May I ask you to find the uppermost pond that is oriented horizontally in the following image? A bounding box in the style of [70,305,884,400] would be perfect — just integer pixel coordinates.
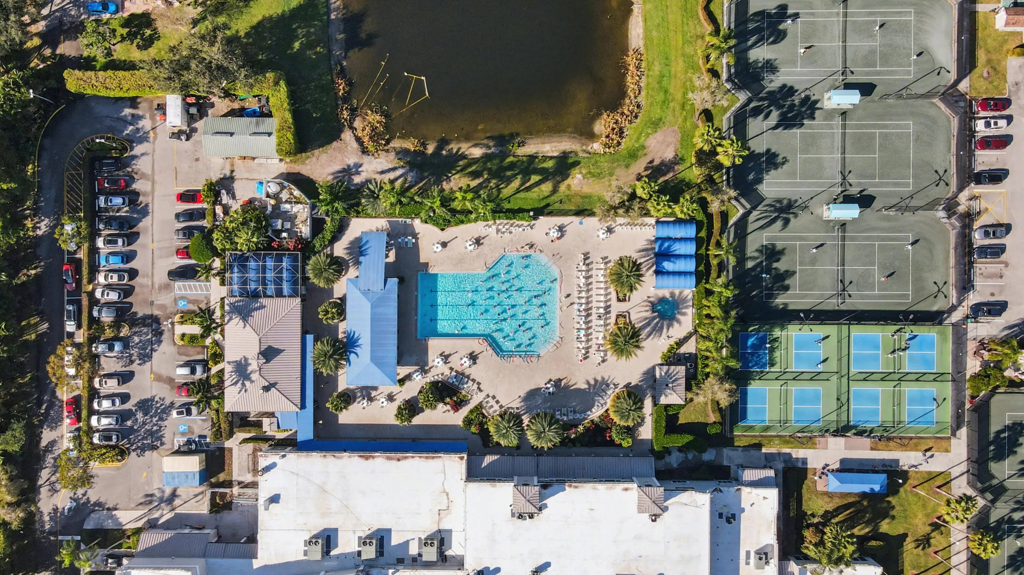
[346,0,629,139]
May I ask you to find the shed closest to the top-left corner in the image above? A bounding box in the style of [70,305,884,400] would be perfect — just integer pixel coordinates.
[202,116,279,158]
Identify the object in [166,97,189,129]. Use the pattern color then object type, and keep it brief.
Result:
white trailer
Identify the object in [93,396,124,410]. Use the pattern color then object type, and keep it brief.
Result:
white car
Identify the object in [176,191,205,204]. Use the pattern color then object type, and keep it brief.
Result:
red vehicle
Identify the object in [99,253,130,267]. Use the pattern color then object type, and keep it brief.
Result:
blue car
